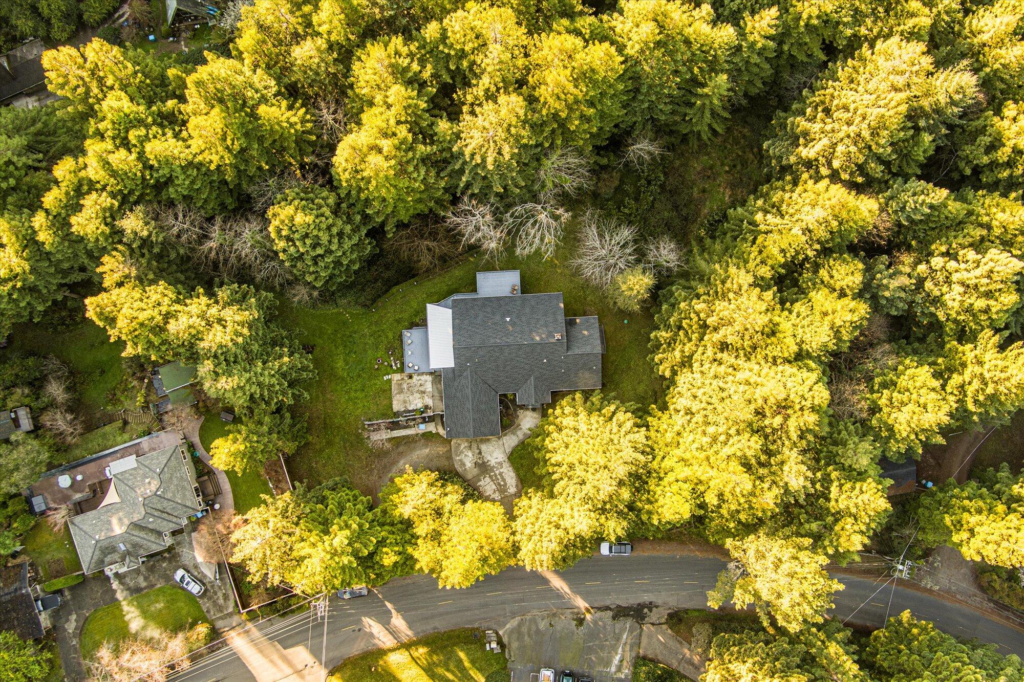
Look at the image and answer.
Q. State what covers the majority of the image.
trees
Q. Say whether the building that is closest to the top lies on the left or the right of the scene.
left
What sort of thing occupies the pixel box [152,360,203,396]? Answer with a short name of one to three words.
shed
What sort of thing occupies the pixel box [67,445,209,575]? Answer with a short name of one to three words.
house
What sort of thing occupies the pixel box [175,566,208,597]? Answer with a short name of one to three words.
car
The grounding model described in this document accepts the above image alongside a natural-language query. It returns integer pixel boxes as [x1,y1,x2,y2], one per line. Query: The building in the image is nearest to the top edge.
[168,0,218,28]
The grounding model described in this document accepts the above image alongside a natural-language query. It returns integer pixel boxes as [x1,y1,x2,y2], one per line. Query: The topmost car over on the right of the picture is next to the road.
[600,540,633,557]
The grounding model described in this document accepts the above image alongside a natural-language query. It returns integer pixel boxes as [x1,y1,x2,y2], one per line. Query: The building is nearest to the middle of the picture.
[442,292,607,438]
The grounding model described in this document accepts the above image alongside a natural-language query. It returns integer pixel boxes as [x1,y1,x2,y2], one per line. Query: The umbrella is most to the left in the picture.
[60,474,76,487]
